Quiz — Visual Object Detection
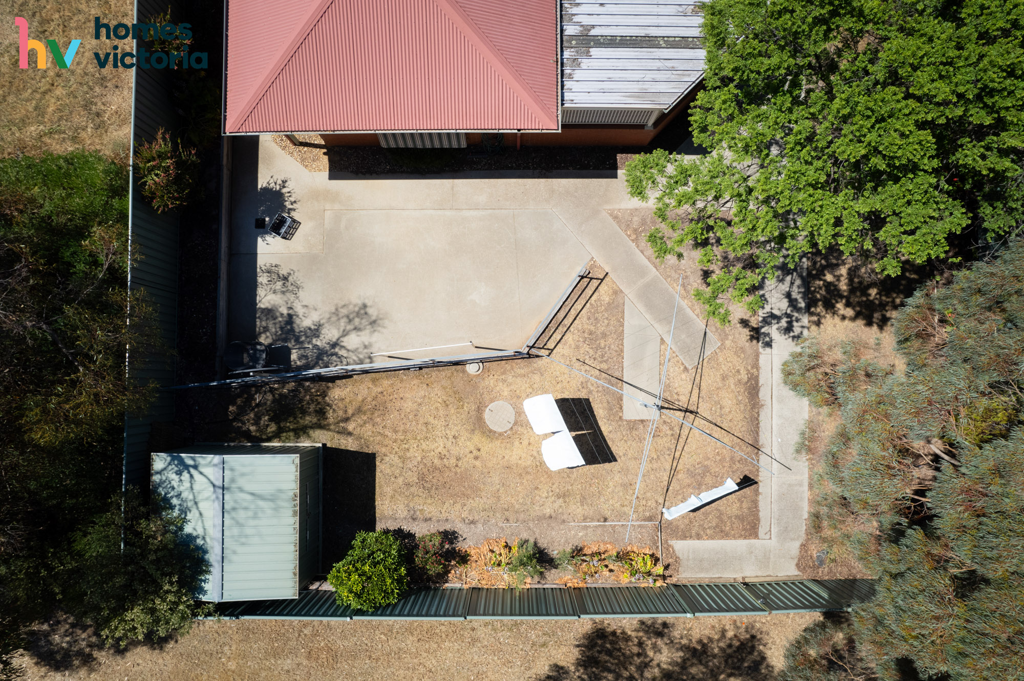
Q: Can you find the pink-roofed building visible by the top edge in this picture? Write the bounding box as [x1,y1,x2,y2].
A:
[222,0,571,150]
